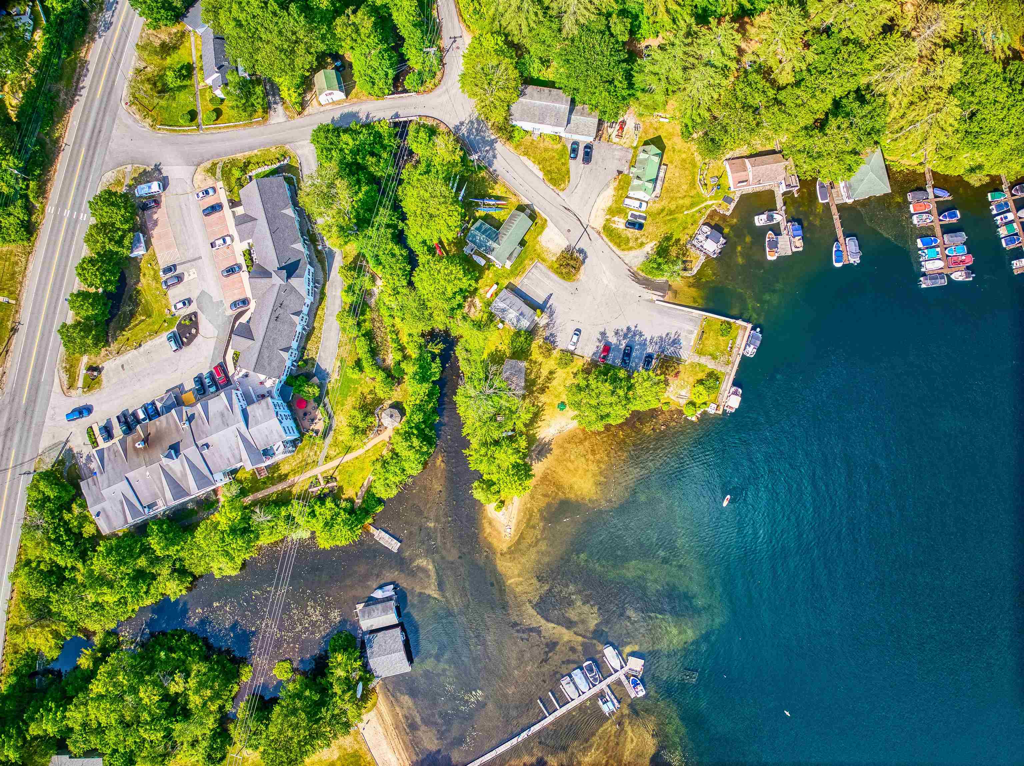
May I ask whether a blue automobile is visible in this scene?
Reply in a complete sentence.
Yes, the image includes a blue automobile.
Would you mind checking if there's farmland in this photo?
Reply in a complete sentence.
No, there is no farmland in the image.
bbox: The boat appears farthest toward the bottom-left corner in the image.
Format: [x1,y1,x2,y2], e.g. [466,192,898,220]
[372,583,400,598]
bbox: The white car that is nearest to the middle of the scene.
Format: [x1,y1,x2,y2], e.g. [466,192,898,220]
[568,328,581,350]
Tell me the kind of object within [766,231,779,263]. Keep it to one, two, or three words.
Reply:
boat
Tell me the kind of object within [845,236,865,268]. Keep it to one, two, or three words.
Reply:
boat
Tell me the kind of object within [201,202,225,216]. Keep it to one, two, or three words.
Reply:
car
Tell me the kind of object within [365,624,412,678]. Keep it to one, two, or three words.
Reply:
building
